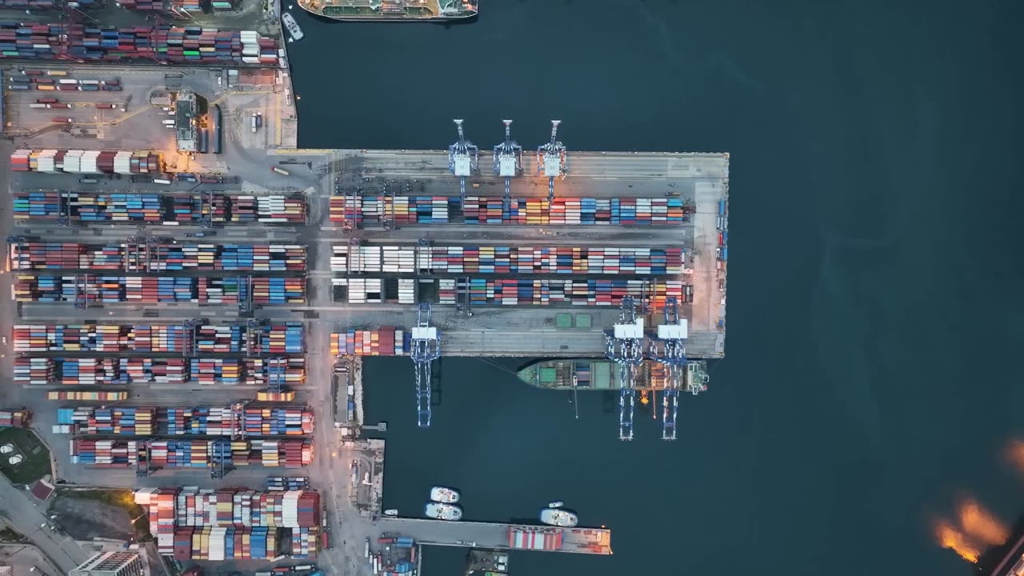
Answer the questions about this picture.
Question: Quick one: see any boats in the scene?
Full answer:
Yes, the image includes a boat.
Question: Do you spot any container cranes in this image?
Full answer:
Yes, a container crane appears in the view.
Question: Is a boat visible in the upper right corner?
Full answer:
No, in the upper right corner there is no boat.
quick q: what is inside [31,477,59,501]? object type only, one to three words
building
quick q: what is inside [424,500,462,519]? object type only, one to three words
boat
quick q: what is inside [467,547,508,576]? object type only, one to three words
ship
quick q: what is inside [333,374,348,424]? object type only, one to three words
shed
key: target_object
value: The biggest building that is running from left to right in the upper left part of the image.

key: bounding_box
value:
[237,68,274,86]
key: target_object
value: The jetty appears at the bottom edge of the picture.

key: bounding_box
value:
[381,515,612,554]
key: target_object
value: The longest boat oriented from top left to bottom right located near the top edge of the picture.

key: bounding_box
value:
[284,14,306,44]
